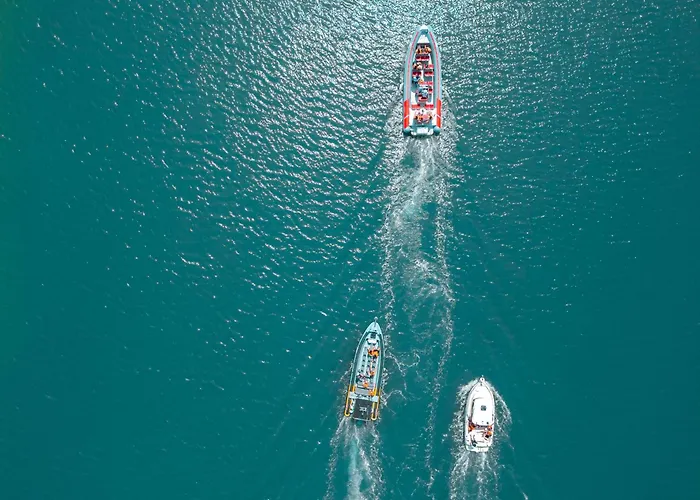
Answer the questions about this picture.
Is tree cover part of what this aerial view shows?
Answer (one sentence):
No, tree cover can't be seen anywhere here.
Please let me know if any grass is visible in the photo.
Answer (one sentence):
No, the scene doesn't show any grass.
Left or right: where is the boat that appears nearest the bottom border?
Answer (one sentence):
The boat that appears nearest the bottom border is on the right side of the image.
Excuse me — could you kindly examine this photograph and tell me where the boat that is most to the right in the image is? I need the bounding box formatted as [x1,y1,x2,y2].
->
[464,376,496,453]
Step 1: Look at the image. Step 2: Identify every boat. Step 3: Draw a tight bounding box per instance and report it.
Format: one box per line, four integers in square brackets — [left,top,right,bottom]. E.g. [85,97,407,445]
[345,319,384,422]
[464,376,496,453]
[403,25,442,137]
